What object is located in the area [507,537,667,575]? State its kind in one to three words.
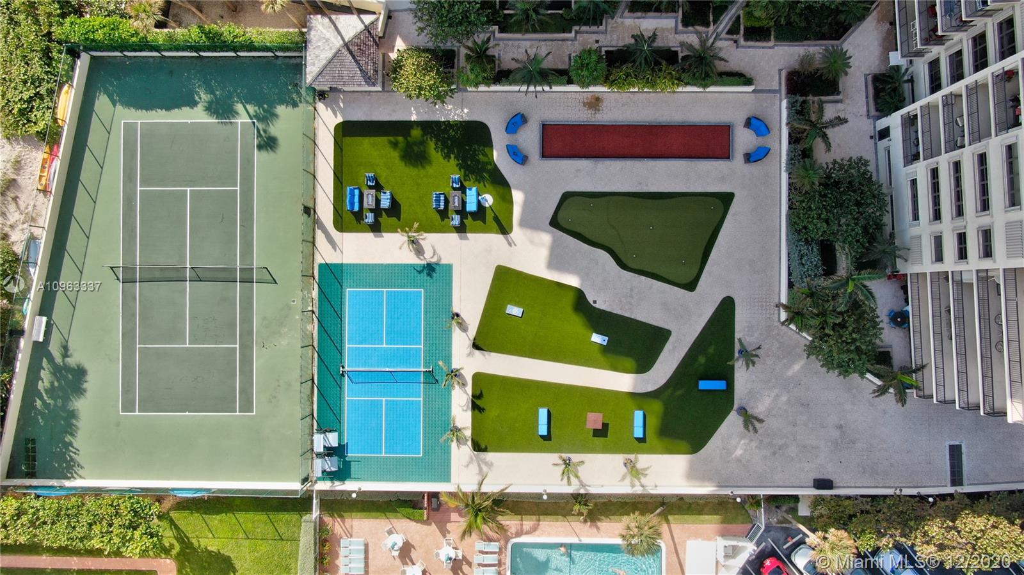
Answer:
swimming pool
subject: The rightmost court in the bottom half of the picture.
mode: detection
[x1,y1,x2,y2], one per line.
[316,263,452,482]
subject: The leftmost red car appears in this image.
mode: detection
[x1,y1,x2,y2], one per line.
[755,552,790,575]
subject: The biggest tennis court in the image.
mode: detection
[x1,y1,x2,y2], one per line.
[6,55,313,481]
